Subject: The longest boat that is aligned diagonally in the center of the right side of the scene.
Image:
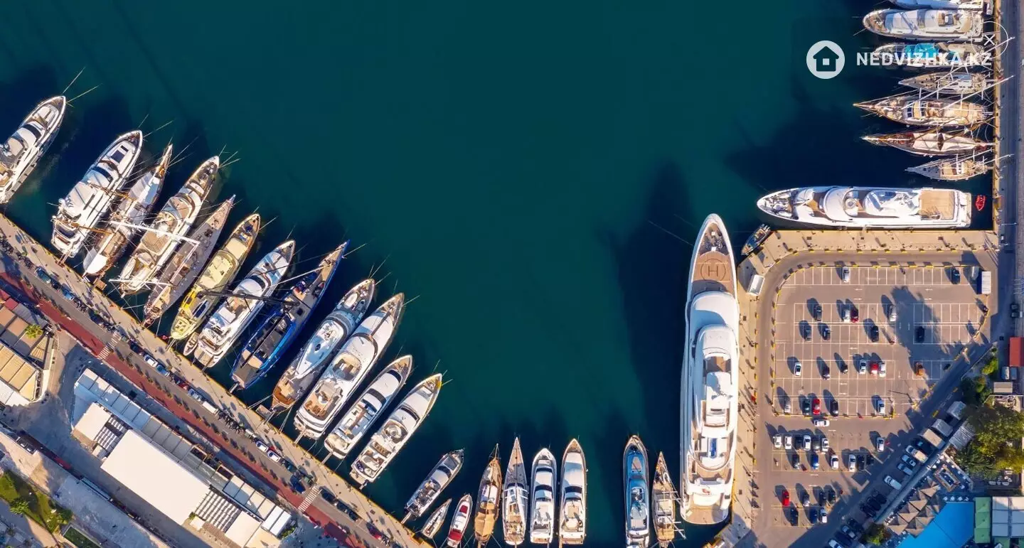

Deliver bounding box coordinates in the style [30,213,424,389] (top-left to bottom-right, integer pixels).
[742,222,773,254]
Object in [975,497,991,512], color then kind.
green umbrella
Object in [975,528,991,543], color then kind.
green umbrella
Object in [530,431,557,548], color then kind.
white boat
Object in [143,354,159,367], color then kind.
white vehicle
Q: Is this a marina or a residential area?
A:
marina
